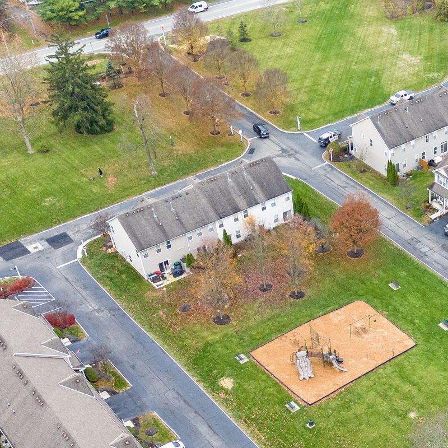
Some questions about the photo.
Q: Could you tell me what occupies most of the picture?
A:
grass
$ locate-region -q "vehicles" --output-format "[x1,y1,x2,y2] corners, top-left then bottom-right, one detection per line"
[93,29,114,39]
[316,130,339,146]
[251,123,271,138]
[188,0,208,12]
[389,90,416,104]
[440,222,448,235]
[161,438,189,448]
